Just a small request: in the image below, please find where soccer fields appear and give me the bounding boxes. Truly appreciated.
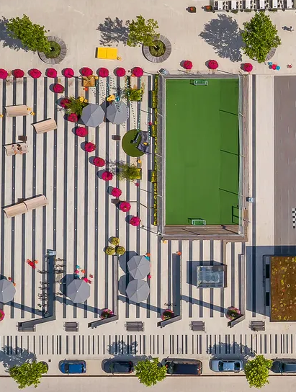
[153,69,248,240]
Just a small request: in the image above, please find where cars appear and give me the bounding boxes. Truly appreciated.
[59,361,87,376]
[164,359,202,377]
[211,359,244,376]
[272,359,296,376]
[102,359,135,376]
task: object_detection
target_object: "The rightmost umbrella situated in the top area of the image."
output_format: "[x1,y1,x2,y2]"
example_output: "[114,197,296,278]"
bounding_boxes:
[107,101,130,124]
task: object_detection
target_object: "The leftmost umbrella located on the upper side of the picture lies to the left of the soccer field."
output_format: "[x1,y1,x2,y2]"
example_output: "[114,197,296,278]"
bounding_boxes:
[82,105,106,127]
